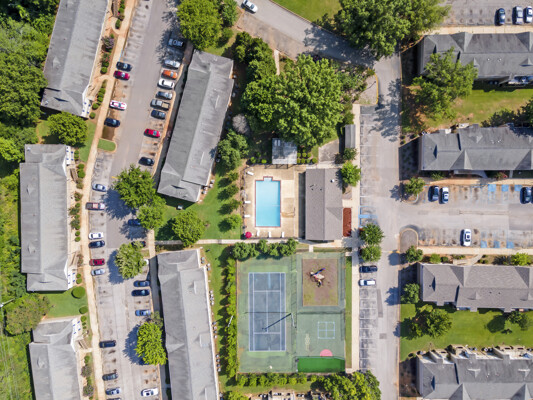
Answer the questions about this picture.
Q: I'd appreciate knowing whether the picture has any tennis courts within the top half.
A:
No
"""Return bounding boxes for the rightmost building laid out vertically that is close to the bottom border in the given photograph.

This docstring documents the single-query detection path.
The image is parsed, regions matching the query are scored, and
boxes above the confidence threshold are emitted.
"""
[157,249,221,400]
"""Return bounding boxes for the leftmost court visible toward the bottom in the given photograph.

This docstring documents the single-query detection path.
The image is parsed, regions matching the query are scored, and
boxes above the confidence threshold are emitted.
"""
[237,254,297,373]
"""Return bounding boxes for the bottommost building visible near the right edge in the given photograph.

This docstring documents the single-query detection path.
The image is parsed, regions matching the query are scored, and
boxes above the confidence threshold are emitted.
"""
[416,342,533,400]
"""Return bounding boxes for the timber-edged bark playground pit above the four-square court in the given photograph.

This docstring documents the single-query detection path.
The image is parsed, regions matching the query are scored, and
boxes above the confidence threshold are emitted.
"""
[302,258,338,307]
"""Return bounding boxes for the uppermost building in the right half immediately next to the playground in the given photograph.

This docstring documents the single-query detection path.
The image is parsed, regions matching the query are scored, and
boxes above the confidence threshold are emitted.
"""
[306,168,344,240]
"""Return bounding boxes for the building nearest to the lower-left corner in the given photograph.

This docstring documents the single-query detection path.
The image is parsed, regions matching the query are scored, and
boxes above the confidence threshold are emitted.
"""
[27,317,87,400]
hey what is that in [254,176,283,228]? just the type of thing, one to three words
swimming pool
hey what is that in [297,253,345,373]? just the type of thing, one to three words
sports court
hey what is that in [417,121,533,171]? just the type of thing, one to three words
building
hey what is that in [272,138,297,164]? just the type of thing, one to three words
building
